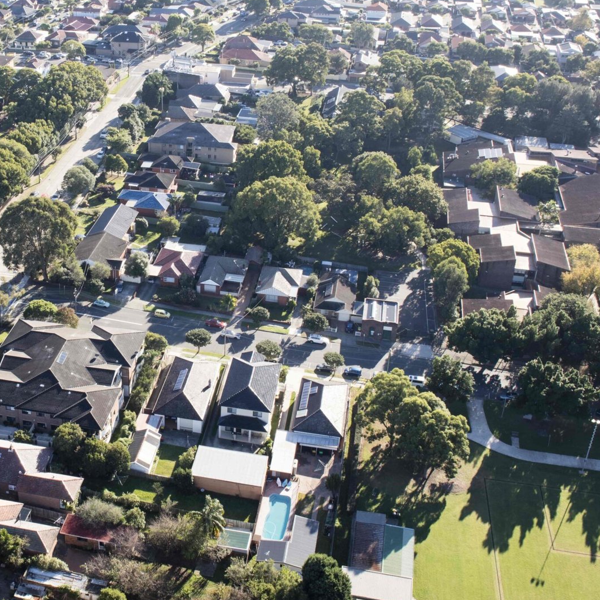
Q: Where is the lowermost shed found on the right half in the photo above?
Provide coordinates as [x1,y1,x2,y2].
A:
[348,564,413,600]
